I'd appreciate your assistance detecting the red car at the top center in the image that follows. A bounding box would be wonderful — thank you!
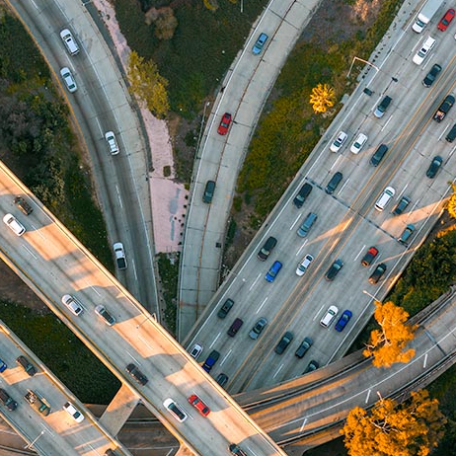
[218,111,233,135]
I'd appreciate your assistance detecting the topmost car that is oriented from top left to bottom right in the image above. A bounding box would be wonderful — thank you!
[60,30,79,54]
